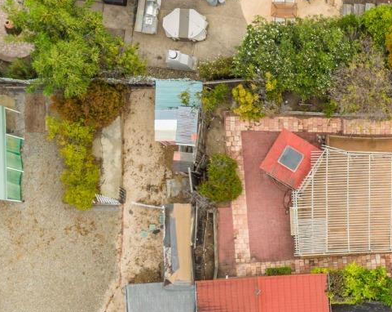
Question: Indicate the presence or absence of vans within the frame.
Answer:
No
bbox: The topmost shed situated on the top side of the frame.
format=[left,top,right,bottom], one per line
[155,80,205,146]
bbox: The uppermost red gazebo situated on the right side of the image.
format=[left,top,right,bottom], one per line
[259,128,321,190]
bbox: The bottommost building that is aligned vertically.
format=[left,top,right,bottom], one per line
[164,204,196,282]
